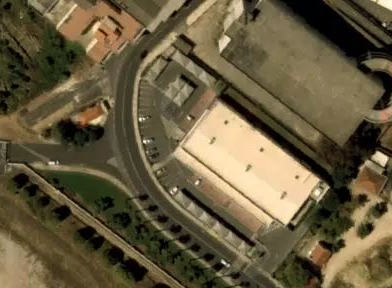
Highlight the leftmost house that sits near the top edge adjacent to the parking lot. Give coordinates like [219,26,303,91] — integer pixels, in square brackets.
[56,0,145,62]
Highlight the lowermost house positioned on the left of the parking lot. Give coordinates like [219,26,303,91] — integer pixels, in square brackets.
[75,101,104,124]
